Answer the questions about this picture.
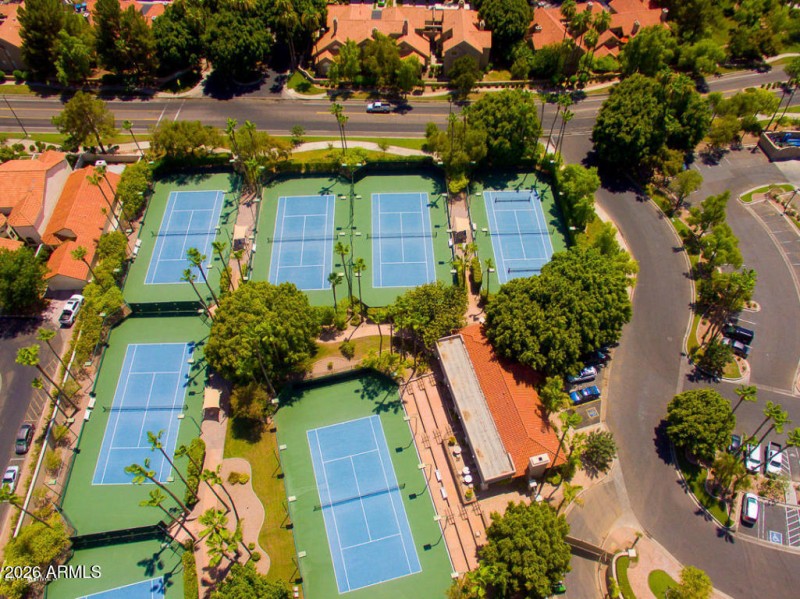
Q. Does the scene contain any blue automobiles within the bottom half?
Yes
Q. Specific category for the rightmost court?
tennis court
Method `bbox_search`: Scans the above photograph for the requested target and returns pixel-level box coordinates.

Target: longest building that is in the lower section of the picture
[434,320,571,486]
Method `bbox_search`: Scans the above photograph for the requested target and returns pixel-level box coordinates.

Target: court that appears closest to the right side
[469,176,584,297]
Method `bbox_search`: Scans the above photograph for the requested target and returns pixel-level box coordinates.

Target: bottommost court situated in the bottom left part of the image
[46,537,179,599]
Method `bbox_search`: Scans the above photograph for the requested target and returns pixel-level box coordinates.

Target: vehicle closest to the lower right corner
[741,491,763,529]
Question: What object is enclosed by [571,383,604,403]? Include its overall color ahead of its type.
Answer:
blue car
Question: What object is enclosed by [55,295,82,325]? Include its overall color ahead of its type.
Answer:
white truck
